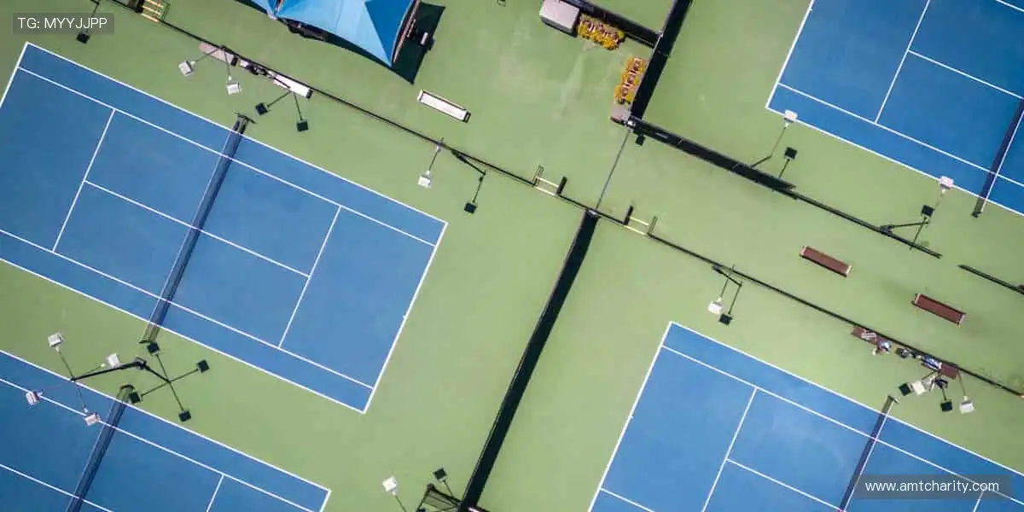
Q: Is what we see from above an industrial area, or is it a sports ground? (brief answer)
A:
sports ground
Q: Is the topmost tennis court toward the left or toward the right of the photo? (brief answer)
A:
right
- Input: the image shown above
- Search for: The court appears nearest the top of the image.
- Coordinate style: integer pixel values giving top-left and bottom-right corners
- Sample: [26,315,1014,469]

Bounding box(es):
[767,0,1024,215]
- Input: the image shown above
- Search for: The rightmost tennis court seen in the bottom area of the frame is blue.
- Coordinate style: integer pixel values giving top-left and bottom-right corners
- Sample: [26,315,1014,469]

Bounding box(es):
[589,323,1024,512]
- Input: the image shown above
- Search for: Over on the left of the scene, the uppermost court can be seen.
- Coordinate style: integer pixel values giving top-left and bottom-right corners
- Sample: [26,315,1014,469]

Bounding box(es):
[0,44,447,414]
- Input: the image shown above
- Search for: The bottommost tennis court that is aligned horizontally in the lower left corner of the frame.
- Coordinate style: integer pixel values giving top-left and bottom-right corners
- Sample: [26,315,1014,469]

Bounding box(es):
[0,349,330,512]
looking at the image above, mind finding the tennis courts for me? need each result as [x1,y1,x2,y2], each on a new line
[0,349,330,512]
[767,0,1024,215]
[0,44,447,414]
[589,323,1024,512]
